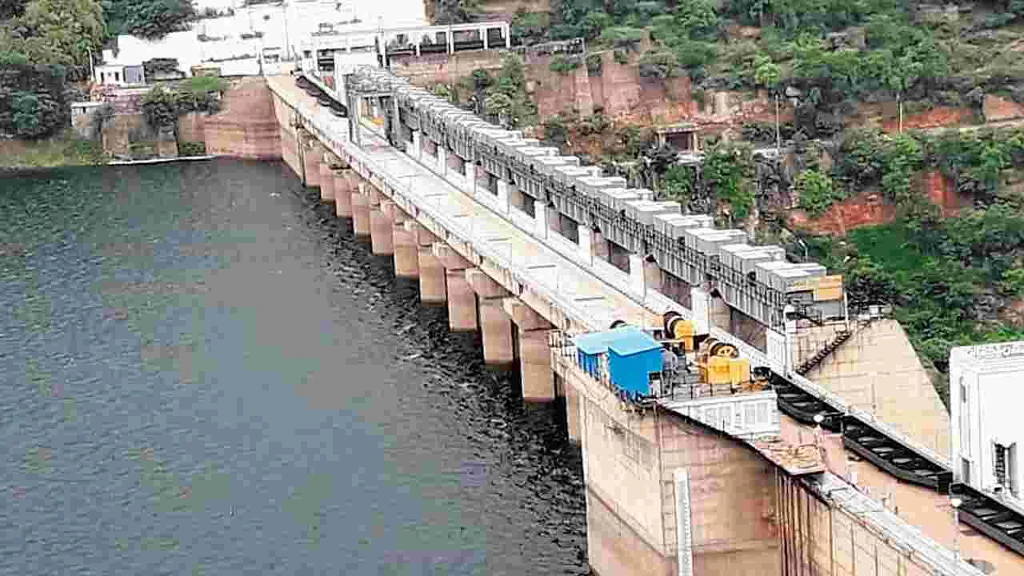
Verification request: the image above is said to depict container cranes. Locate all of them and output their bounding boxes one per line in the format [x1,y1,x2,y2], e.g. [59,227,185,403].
[342,68,397,145]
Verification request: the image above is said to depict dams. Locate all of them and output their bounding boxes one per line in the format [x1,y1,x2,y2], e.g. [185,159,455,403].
[251,65,1024,576]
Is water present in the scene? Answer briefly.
Yes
